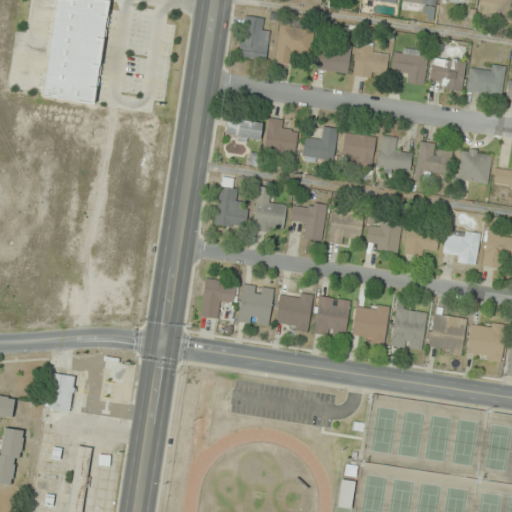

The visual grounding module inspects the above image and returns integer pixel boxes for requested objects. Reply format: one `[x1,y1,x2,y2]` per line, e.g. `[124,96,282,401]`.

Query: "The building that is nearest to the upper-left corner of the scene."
[45,0,112,106]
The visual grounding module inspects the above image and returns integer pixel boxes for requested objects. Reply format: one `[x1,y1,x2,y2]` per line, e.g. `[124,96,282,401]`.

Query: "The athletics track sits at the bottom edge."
[181,427,334,512]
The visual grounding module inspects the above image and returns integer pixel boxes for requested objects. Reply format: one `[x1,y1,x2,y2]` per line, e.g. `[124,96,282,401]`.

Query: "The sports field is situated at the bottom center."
[196,442,318,512]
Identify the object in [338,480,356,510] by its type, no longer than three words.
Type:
building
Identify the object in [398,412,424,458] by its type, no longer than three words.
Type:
tennis court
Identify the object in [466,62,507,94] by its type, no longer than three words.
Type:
house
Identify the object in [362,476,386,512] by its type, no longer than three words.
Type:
tennis court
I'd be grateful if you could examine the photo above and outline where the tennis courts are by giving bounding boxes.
[371,408,396,454]
[486,425,511,471]
[416,484,440,512]
[444,488,468,512]
[390,480,414,512]
[452,420,478,466]
[479,493,501,512]
[362,476,386,512]
[398,412,424,458]
[426,416,450,462]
